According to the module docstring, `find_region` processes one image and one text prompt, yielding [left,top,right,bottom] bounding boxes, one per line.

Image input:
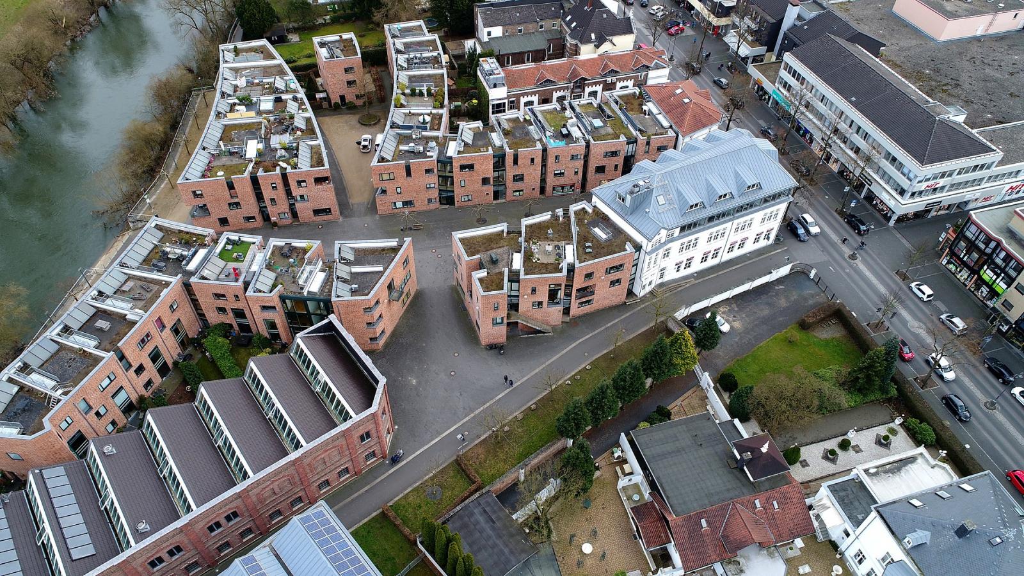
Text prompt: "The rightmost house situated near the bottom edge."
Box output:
[849,469,1024,576]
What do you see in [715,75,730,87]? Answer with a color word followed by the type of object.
gray vehicle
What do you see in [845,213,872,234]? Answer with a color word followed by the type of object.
black car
